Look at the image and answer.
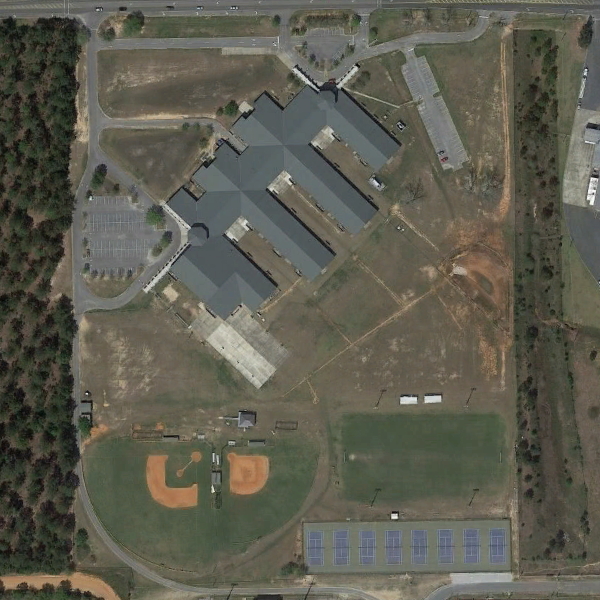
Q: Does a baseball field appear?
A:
Yes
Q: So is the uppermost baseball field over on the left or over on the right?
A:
right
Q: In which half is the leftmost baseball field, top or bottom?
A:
bottom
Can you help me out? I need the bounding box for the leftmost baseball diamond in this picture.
[84,438,214,572]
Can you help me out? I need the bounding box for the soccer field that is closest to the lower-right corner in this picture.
[342,415,506,504]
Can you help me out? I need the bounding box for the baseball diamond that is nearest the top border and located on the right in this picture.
[448,246,506,320]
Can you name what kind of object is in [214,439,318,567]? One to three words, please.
baseball field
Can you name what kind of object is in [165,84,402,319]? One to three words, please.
building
